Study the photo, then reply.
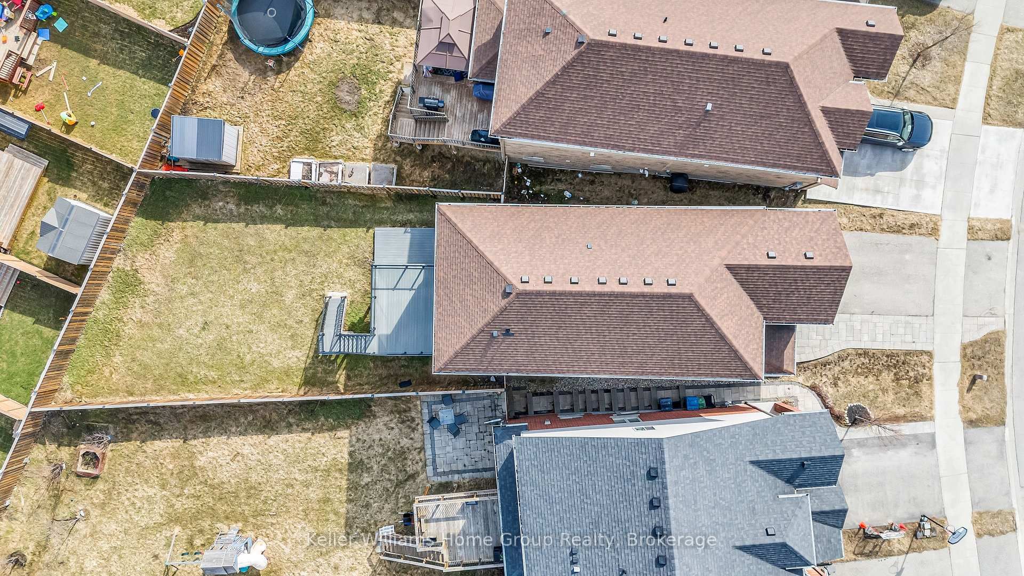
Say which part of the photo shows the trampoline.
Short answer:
top left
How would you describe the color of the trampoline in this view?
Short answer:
blue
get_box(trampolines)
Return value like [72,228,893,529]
[222,0,319,60]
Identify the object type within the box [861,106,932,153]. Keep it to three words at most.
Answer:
car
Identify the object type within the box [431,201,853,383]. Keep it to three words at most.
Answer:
house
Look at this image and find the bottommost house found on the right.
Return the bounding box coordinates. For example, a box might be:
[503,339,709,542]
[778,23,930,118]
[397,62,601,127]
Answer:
[492,402,849,576]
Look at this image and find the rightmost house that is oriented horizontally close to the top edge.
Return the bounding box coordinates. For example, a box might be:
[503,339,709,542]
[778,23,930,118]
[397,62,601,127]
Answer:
[467,0,905,193]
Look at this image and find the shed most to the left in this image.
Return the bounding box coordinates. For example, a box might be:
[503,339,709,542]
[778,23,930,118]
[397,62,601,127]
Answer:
[0,108,51,145]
